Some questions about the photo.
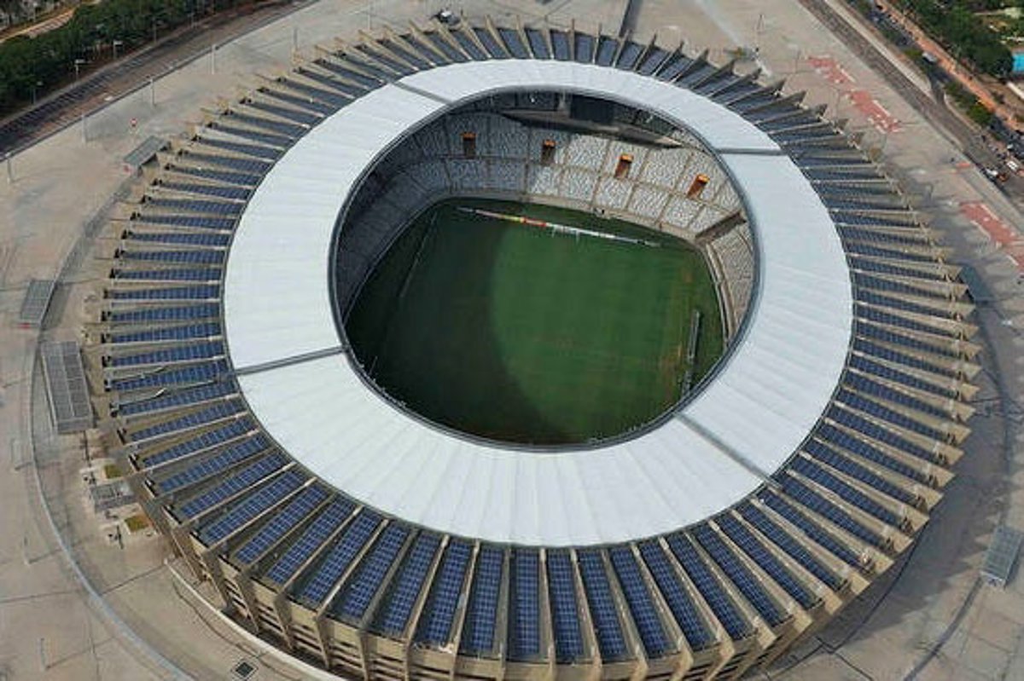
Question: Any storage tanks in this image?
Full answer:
No, there appears to be no storage tank in this shot.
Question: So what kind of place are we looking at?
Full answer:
It's a sports ground.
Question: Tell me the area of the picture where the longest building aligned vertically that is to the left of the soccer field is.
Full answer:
The longest building aligned vertically that is to the left of the soccer field sits in the left section of the image.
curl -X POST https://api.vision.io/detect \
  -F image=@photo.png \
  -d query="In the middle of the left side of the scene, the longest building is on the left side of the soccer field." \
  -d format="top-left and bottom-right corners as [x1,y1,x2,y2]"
[39,340,96,442]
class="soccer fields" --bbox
[345,195,724,443]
